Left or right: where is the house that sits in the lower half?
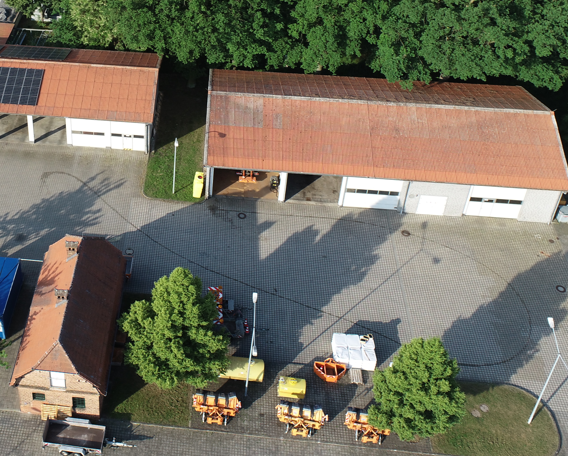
left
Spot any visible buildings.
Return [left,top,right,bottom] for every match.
[8,233,130,421]
[203,67,568,226]
[0,44,162,153]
